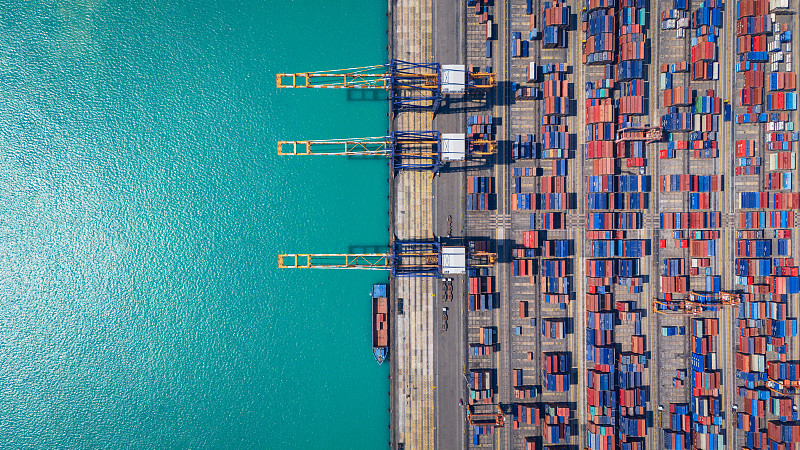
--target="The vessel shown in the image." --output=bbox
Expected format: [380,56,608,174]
[370,274,391,373]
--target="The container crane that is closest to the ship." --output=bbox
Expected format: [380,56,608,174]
[278,236,496,280]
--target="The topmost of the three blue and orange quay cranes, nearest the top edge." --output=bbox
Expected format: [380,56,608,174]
[277,62,495,120]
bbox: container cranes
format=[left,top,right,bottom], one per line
[277,62,495,120]
[652,298,706,316]
[689,290,745,306]
[616,126,667,144]
[465,403,507,427]
[278,236,496,280]
[277,130,495,178]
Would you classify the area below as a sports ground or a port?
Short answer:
port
